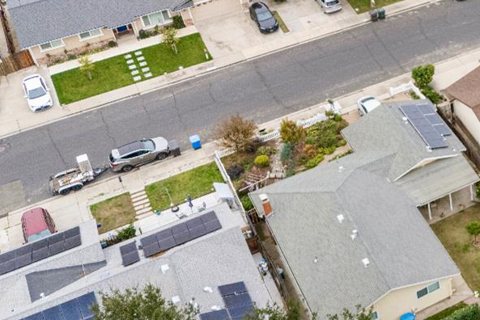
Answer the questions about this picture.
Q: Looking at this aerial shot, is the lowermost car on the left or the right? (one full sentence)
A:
You can find the lowermost car on the left side of the picture.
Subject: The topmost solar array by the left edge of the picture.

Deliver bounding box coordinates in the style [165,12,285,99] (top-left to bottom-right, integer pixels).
[0,224,82,273]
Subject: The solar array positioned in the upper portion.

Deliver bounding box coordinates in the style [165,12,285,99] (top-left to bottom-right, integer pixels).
[398,102,454,148]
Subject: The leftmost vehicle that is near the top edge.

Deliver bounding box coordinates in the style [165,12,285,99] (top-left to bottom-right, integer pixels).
[248,1,279,30]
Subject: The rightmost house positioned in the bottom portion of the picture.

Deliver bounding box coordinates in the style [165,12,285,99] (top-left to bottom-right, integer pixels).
[250,98,480,320]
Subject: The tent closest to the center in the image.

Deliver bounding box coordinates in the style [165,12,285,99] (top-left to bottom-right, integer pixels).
[206,174,236,201]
